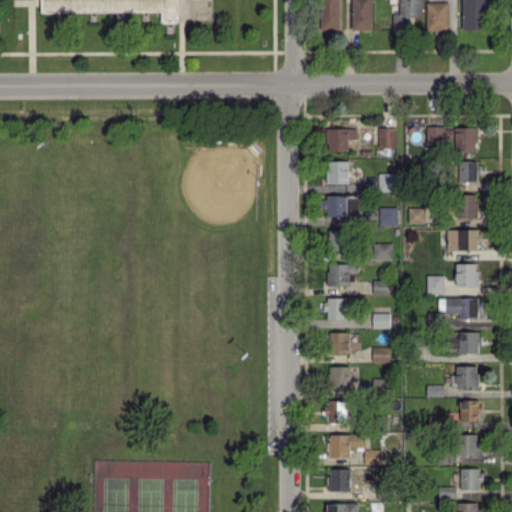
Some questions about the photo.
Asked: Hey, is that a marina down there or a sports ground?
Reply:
sports ground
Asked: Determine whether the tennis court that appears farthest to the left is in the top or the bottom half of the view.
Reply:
bottom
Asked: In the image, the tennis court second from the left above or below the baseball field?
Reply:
below it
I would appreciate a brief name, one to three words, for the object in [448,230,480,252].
house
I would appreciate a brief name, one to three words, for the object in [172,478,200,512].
tennis court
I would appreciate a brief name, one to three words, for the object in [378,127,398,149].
building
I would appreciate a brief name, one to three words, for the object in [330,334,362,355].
house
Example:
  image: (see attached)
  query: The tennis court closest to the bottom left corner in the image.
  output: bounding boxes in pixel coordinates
[102,478,130,512]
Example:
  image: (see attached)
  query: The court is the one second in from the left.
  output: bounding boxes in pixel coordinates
[137,478,166,512]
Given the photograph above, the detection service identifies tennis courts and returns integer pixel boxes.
[172,478,200,512]
[102,478,130,512]
[137,478,166,512]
